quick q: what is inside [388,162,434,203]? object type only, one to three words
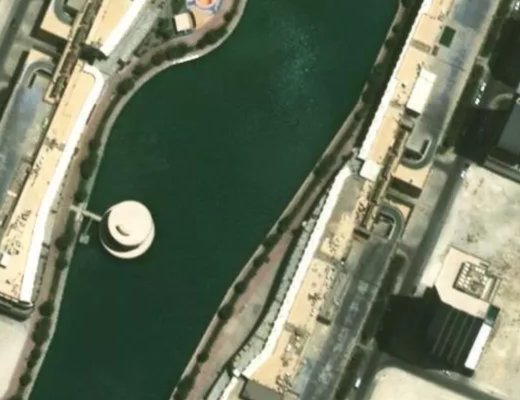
building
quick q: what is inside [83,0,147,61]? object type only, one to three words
building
